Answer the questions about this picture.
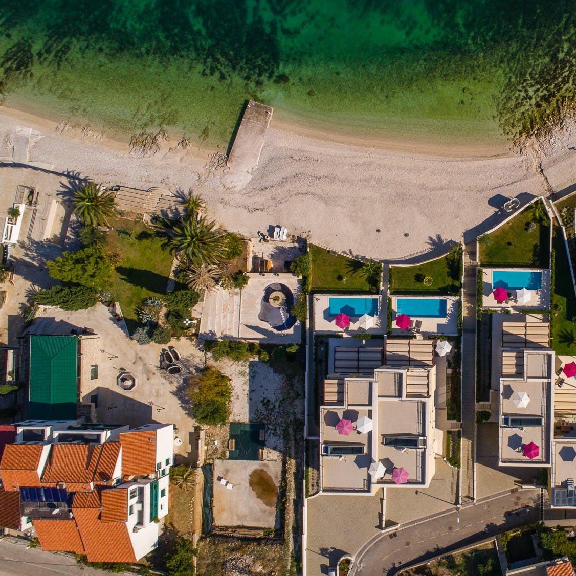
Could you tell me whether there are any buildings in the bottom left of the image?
Yes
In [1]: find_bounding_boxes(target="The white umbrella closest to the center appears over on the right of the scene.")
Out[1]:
[358,313,373,329]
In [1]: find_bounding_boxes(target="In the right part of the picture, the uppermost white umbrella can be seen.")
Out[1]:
[516,287,530,305]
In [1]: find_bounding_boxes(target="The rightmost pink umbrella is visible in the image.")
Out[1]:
[563,360,576,379]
